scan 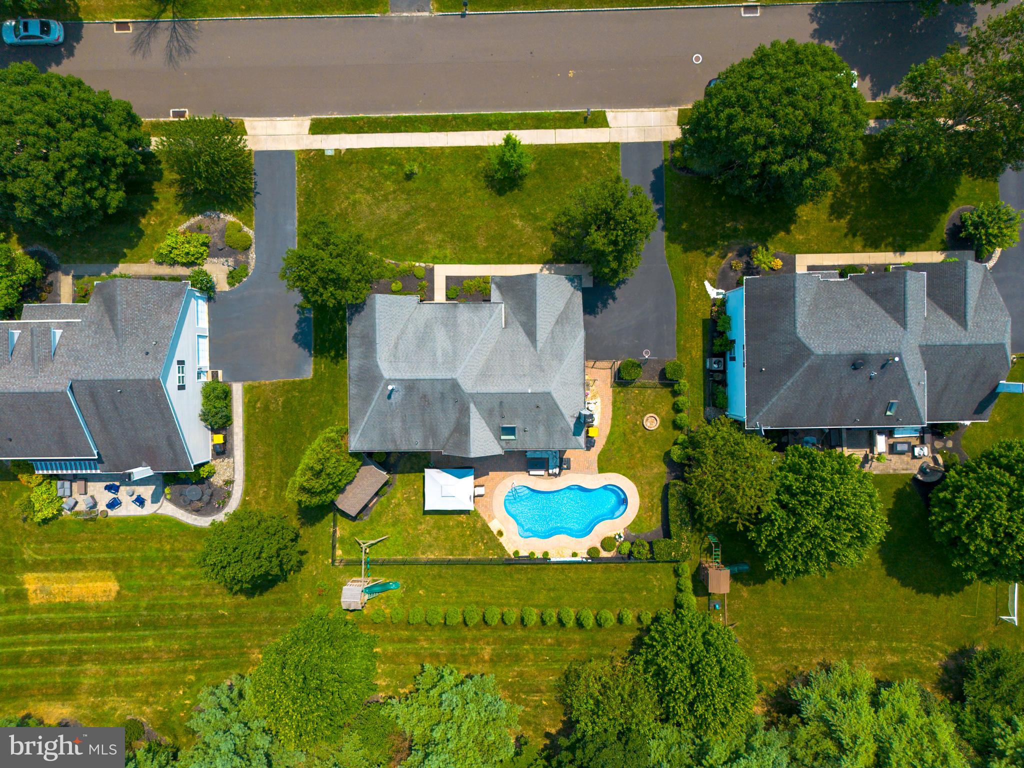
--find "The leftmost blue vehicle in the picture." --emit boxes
[4,16,66,50]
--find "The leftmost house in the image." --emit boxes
[0,274,221,485]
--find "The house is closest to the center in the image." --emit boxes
[346,270,595,457]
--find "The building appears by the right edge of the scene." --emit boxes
[724,257,1024,429]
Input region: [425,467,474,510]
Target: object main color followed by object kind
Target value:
white gazebo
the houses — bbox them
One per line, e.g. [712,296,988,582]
[0,274,221,485]
[724,257,1024,429]
[346,270,595,457]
